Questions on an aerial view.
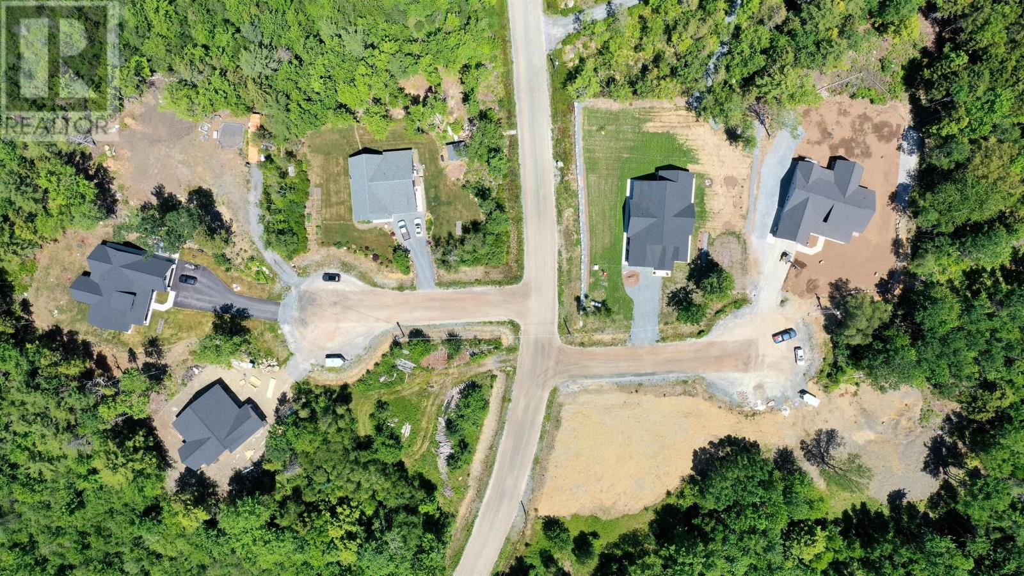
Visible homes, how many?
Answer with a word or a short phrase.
5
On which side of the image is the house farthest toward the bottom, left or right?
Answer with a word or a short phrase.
left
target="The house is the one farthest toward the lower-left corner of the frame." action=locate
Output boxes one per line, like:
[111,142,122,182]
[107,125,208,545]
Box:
[174,384,265,469]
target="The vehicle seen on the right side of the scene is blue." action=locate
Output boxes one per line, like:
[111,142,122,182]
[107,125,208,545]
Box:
[772,329,797,344]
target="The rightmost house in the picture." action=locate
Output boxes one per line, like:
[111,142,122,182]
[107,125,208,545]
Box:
[773,159,875,247]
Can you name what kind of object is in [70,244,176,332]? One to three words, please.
house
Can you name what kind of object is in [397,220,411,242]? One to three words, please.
vehicle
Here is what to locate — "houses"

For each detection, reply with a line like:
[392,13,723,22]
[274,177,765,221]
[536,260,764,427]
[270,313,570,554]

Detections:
[627,170,696,275]
[174,384,265,469]
[773,159,875,247]
[70,244,176,332]
[348,150,416,223]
